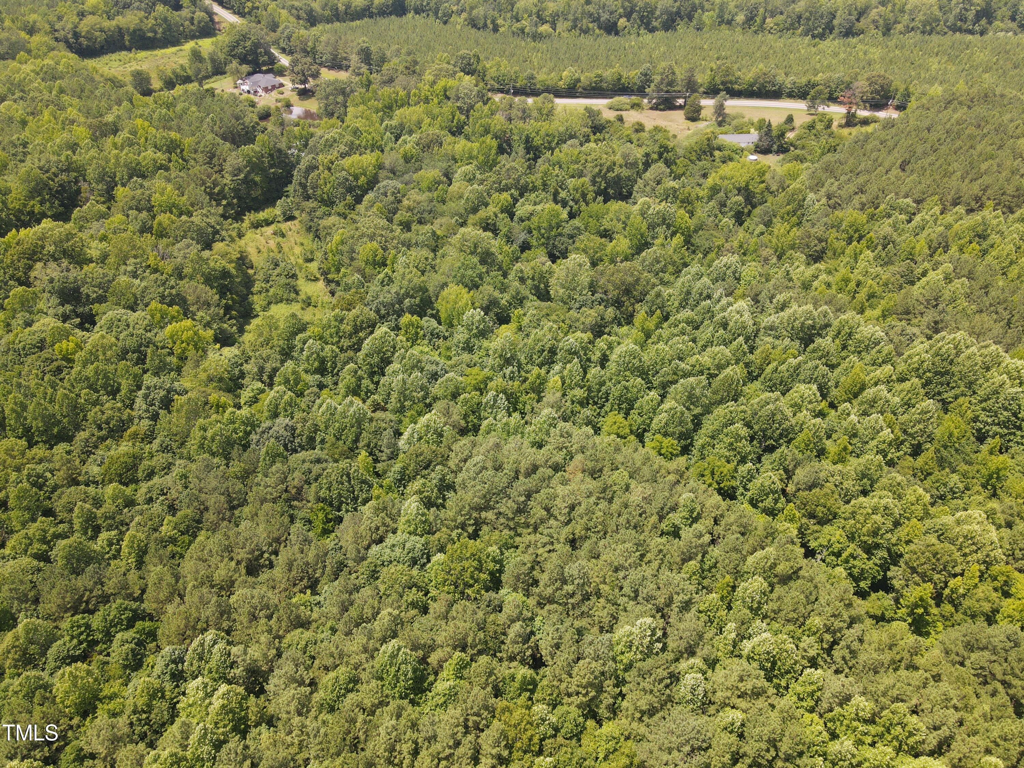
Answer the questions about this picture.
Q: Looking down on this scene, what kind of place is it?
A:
forest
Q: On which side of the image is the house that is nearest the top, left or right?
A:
left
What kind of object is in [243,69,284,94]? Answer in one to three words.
house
